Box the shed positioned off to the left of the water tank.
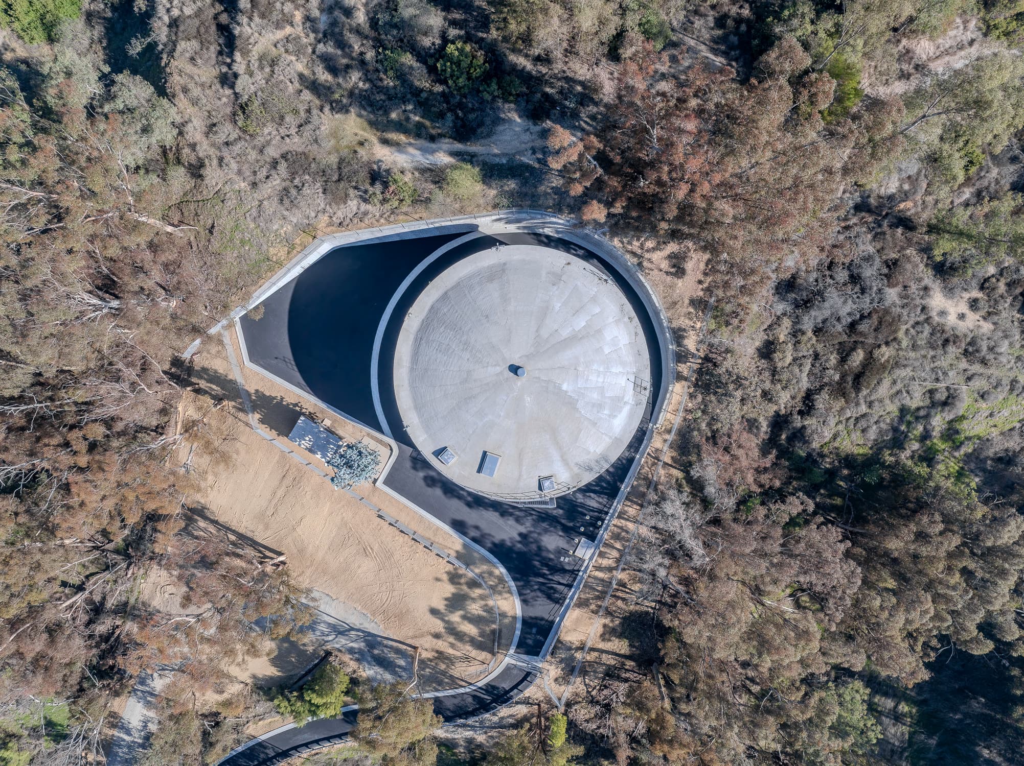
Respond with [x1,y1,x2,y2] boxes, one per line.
[287,415,344,462]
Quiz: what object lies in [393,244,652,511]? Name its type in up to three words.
water tank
